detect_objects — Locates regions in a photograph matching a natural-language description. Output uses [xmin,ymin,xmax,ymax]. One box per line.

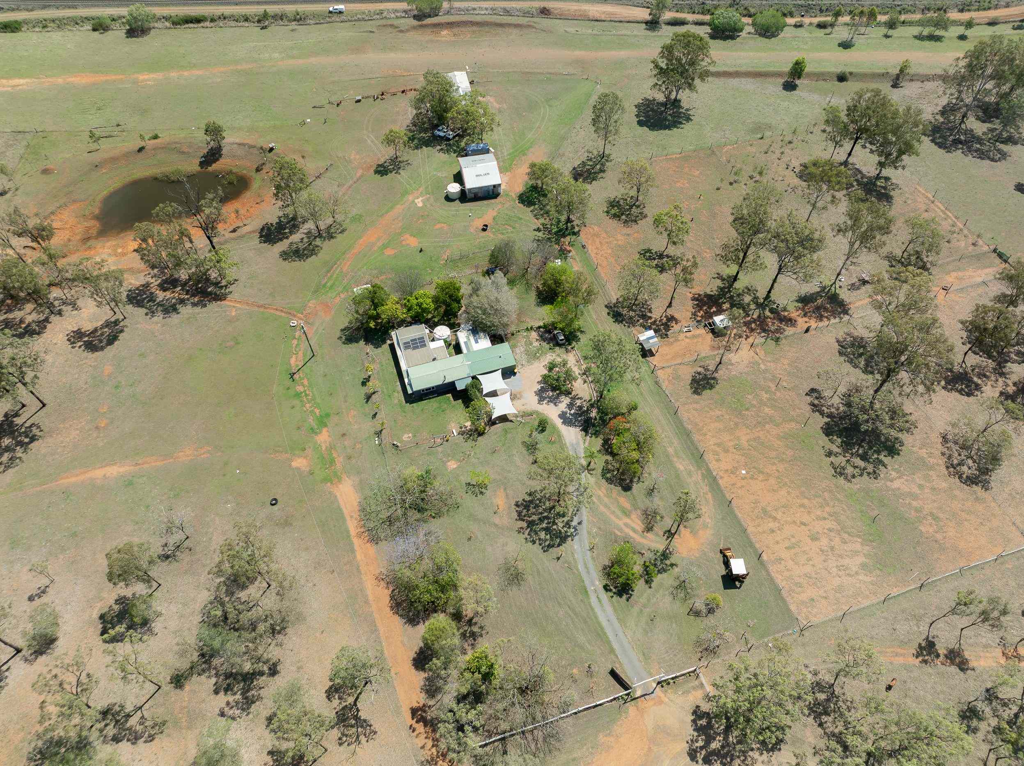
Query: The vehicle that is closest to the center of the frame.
[552,330,568,347]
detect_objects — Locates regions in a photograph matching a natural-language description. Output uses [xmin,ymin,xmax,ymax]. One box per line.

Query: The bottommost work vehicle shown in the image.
[723,551,748,591]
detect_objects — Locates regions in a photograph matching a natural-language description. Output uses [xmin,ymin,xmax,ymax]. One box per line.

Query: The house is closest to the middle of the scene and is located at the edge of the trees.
[392,324,516,398]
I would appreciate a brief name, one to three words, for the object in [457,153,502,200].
shed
